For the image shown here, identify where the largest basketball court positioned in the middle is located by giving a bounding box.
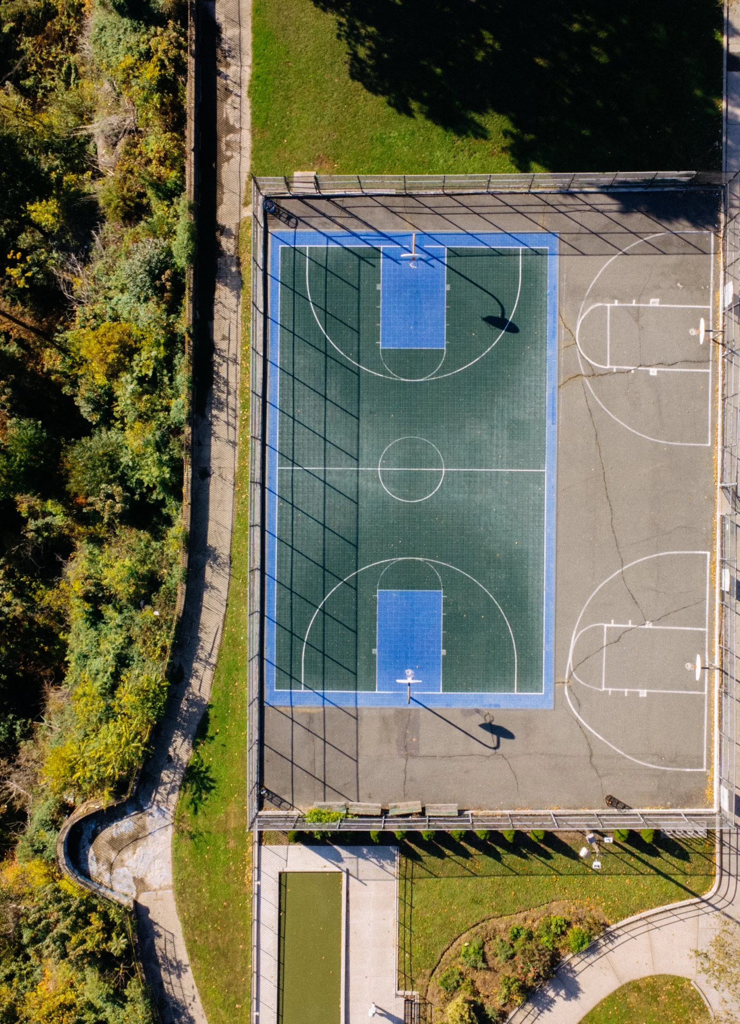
[265,231,559,709]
